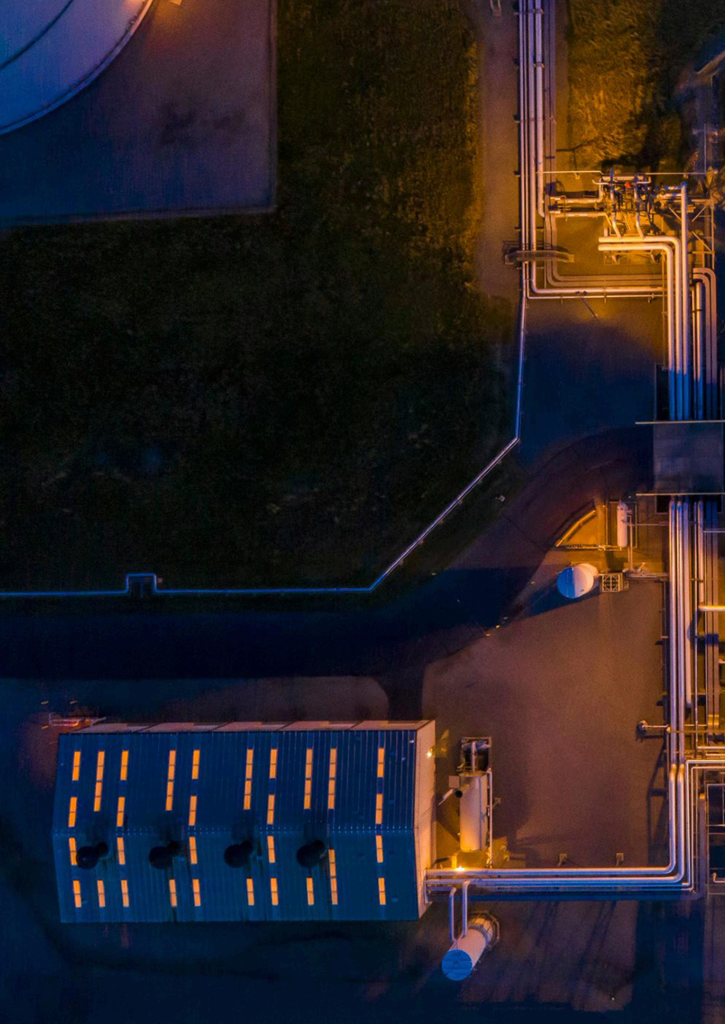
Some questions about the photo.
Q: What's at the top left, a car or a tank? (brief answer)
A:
tank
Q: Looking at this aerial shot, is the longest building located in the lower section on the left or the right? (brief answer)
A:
left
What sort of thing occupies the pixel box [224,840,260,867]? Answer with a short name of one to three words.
chimney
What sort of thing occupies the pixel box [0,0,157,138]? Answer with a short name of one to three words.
storage tank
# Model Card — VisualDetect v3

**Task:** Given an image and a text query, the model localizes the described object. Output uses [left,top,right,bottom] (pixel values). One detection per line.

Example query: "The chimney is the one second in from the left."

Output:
[149,841,188,868]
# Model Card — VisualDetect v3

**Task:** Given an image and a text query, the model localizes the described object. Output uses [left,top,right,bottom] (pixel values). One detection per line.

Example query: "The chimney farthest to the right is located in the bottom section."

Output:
[297,841,333,867]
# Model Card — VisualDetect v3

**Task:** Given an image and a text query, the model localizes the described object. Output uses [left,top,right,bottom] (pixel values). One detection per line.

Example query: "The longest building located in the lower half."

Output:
[48,721,435,924]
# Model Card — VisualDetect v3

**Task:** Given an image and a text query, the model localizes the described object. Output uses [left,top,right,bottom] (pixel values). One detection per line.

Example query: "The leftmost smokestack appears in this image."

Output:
[76,842,116,868]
